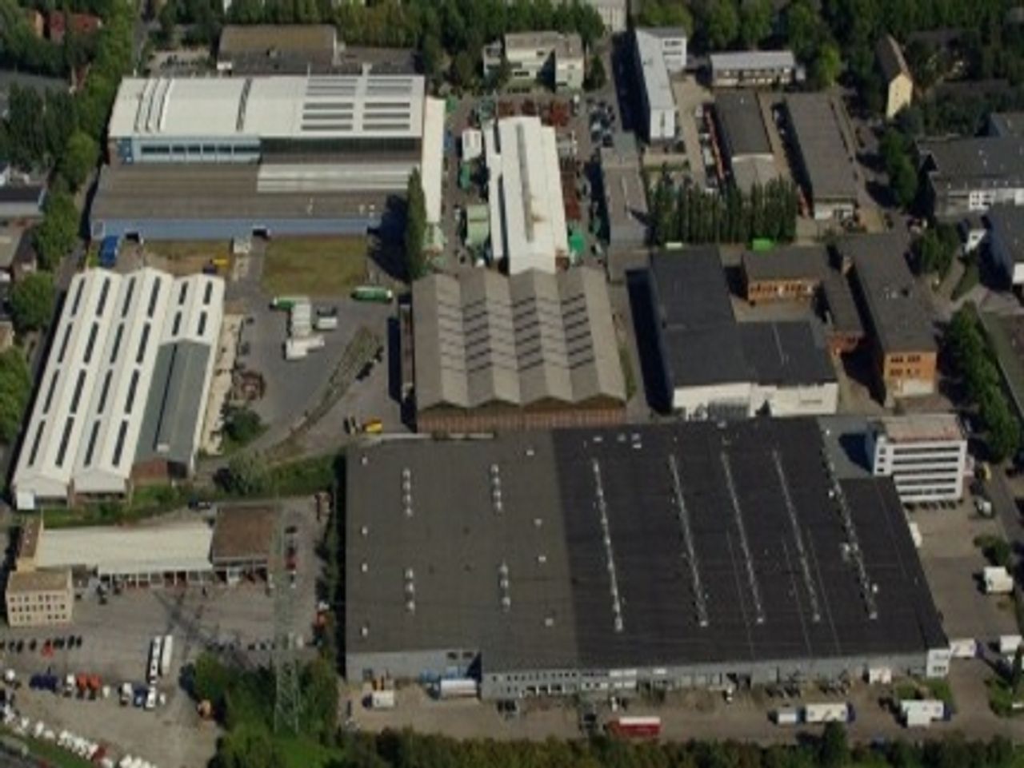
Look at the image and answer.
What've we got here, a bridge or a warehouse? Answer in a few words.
warehouse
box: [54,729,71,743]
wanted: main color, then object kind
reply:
white vehicle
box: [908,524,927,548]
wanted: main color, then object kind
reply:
white vehicle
